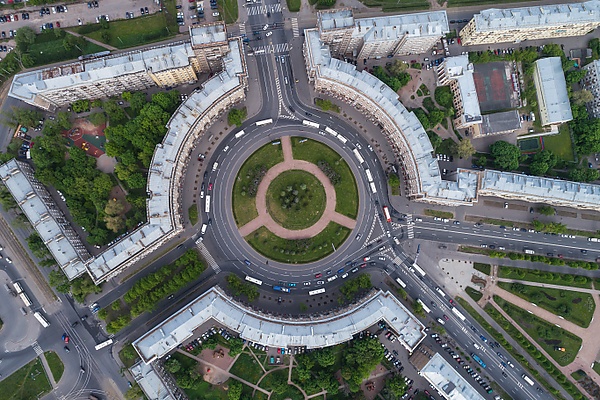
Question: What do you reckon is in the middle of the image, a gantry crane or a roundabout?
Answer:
roundabout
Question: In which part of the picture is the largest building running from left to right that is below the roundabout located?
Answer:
bottom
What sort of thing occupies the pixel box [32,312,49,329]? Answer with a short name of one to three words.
vehicle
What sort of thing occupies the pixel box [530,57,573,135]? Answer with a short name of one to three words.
building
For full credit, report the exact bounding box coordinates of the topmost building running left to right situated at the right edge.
[461,0,600,45]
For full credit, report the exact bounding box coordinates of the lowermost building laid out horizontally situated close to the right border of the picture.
[478,169,600,211]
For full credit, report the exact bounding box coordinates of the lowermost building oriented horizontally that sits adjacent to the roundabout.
[129,288,428,364]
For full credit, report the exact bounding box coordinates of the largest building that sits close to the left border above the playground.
[8,45,157,112]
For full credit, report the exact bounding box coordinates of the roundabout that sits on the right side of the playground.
[224,131,365,271]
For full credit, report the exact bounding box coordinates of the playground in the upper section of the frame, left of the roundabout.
[63,118,106,158]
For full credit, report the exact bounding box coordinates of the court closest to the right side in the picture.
[473,61,519,110]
